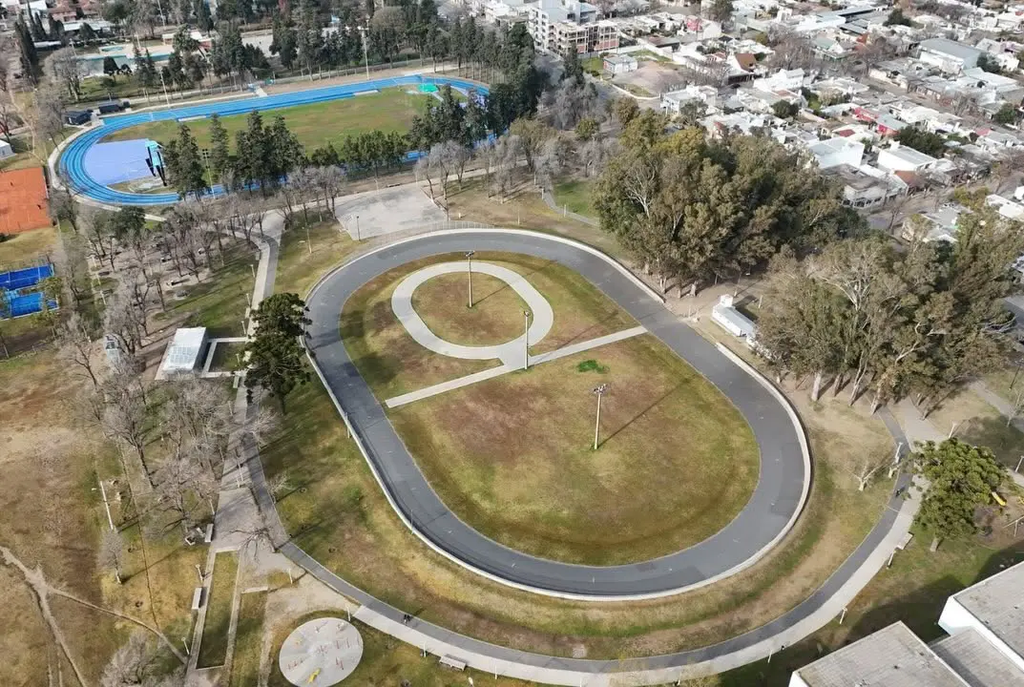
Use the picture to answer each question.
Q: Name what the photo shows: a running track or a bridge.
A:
running track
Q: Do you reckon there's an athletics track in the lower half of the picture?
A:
No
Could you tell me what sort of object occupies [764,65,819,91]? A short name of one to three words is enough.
house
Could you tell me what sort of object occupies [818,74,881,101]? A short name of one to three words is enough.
house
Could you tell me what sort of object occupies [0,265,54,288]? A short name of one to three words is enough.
sports court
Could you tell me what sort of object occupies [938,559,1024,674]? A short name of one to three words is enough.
building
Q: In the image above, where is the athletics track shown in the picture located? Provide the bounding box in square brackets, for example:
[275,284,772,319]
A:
[55,76,519,204]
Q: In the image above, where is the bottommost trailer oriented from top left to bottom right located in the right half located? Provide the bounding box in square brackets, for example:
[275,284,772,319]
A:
[713,303,757,339]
